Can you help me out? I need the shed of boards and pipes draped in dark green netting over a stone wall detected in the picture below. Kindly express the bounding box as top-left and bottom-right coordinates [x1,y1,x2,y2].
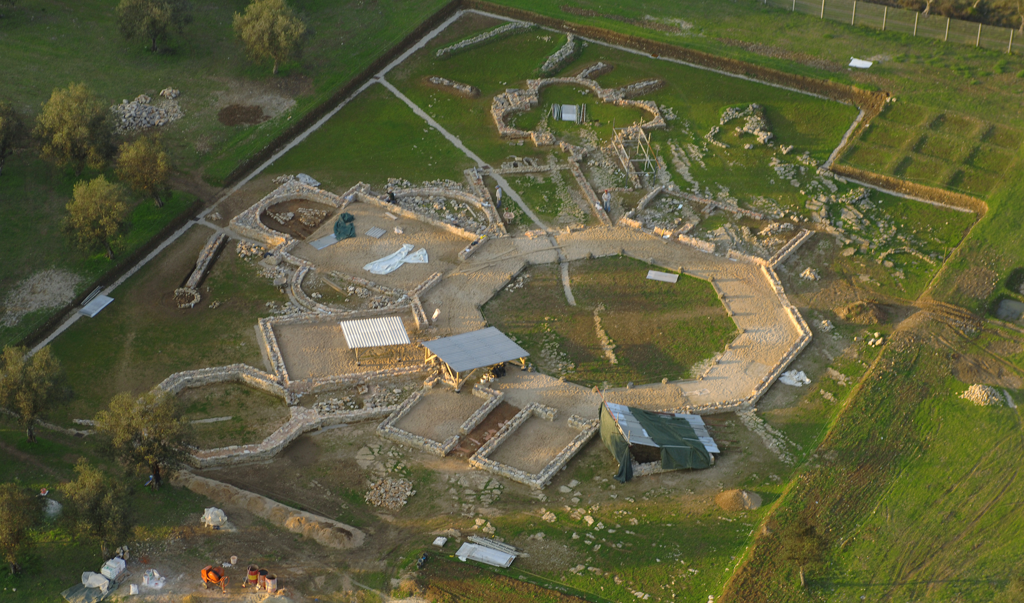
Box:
[595,385,737,501]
